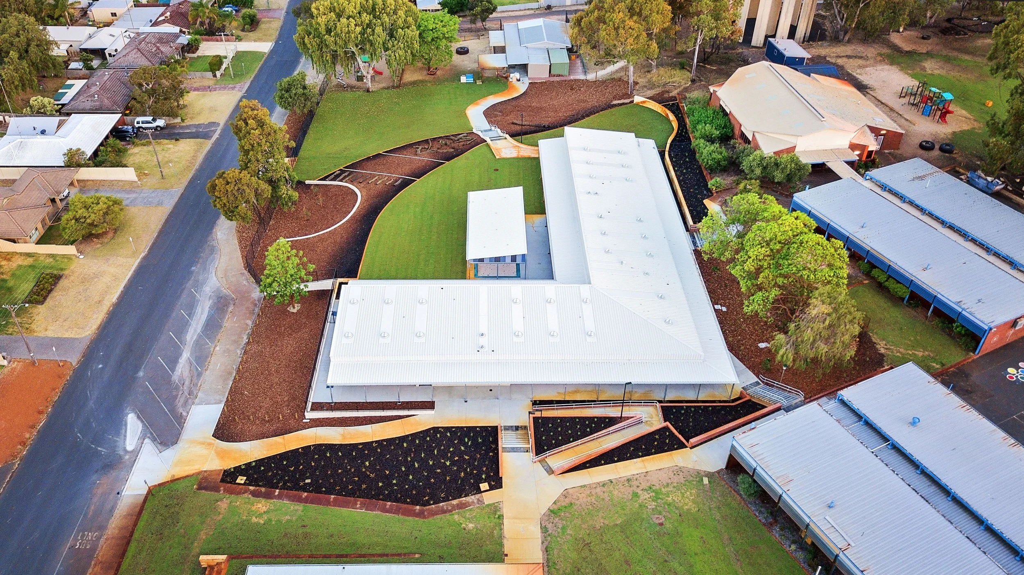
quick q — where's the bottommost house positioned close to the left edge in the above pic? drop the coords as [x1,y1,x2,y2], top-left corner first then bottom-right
[0,167,80,252]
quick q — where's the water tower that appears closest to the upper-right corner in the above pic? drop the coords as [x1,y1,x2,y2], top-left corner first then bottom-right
[737,0,824,46]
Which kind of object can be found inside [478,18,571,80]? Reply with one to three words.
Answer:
building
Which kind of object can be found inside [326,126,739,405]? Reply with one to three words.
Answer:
building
